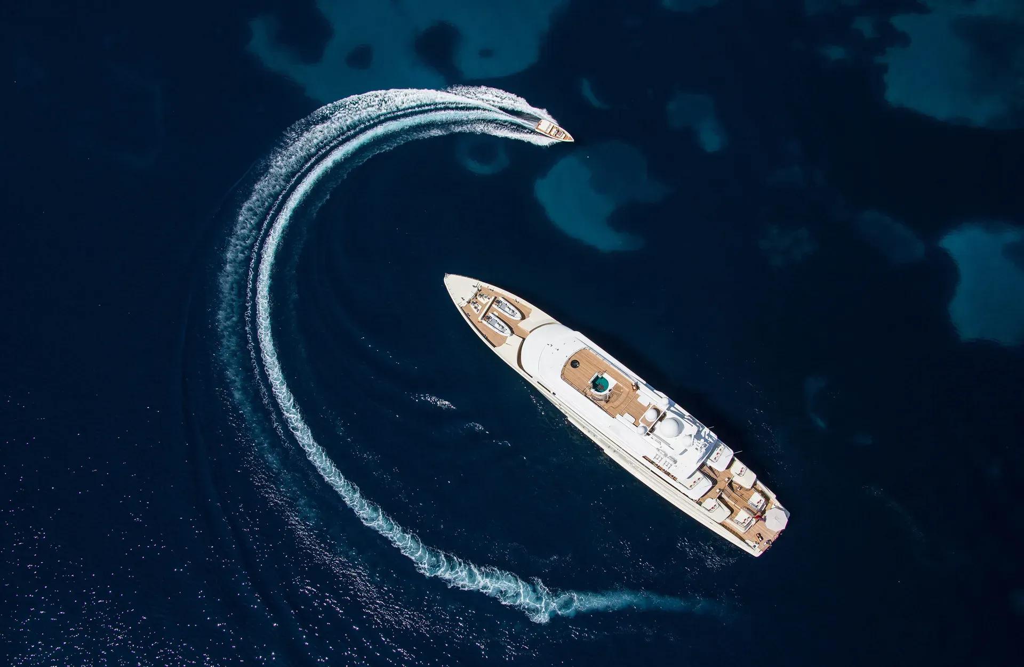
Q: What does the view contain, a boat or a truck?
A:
boat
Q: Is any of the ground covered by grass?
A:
No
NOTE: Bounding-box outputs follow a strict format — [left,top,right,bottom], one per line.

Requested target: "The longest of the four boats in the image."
[444,270,791,556]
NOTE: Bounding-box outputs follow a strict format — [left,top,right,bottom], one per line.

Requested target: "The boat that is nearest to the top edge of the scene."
[536,123,574,143]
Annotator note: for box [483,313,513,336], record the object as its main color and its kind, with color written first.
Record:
white boat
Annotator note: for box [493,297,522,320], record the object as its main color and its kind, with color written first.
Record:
white boat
